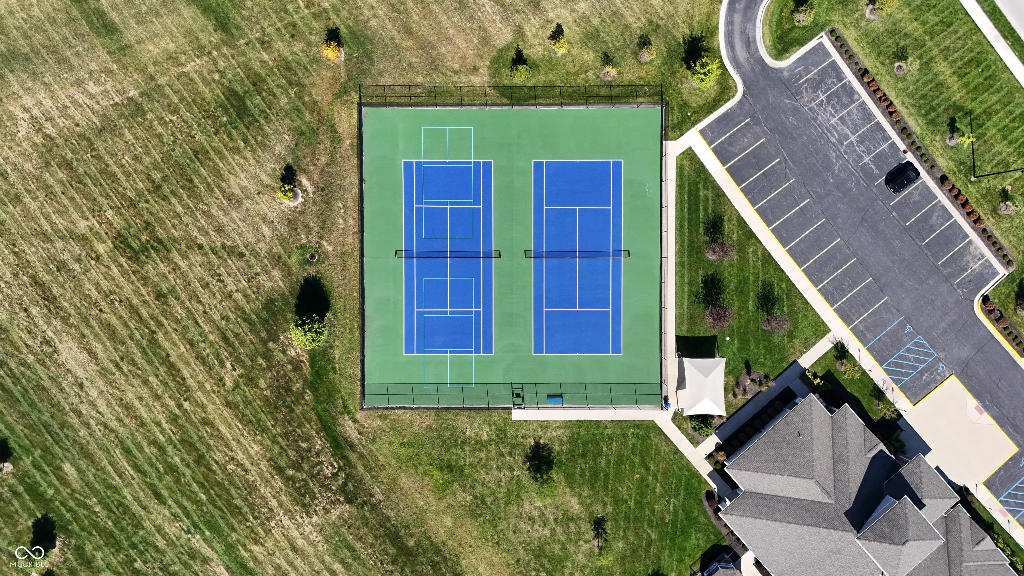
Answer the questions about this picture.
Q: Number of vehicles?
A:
1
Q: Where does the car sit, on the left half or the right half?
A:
right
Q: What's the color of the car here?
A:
black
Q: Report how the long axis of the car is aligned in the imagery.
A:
diagonally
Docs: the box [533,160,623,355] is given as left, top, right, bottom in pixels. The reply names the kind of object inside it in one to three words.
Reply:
tennis court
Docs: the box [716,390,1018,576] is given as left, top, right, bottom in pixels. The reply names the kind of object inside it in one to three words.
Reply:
building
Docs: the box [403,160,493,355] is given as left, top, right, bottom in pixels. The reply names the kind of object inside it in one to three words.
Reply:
tennis court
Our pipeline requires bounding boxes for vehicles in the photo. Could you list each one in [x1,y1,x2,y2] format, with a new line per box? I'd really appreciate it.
[885,165,922,196]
